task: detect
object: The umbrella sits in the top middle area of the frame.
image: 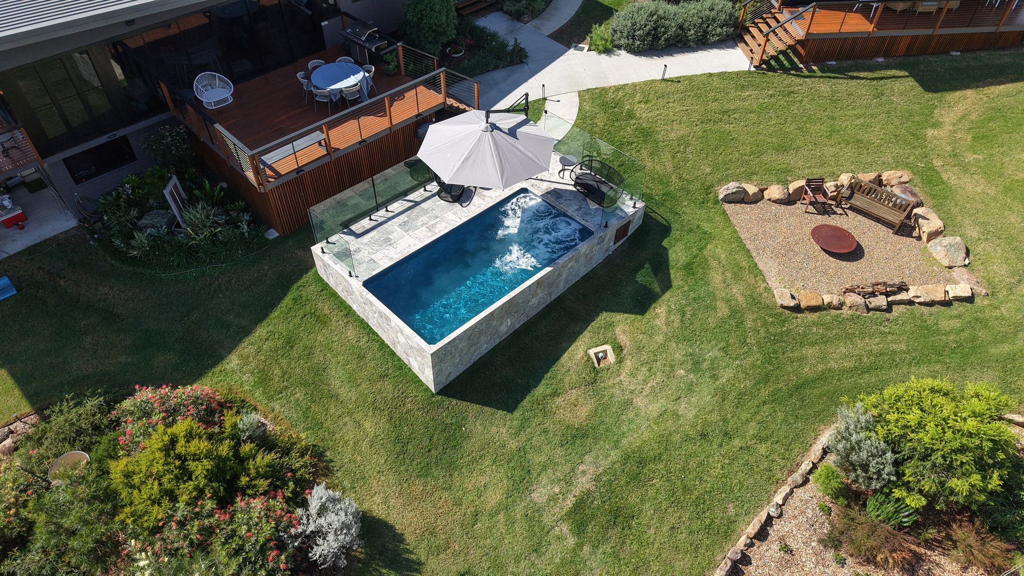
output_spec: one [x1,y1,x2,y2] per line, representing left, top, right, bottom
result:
[416,91,557,193]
